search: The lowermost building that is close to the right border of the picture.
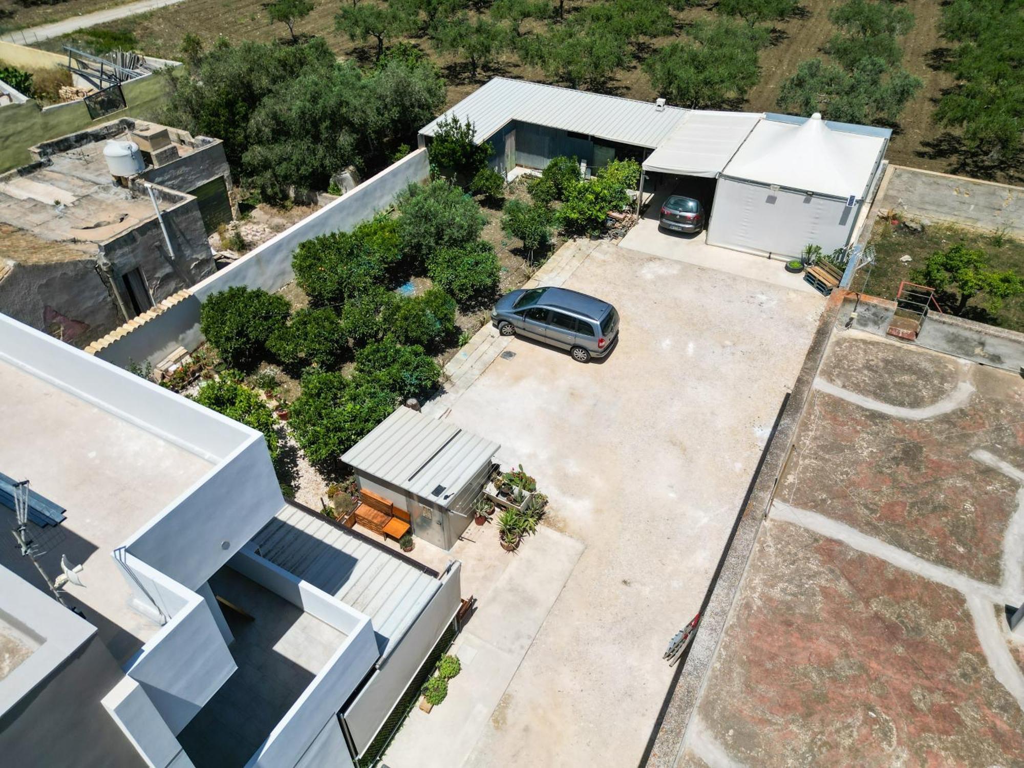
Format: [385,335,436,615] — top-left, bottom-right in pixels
[644,287,1024,768]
